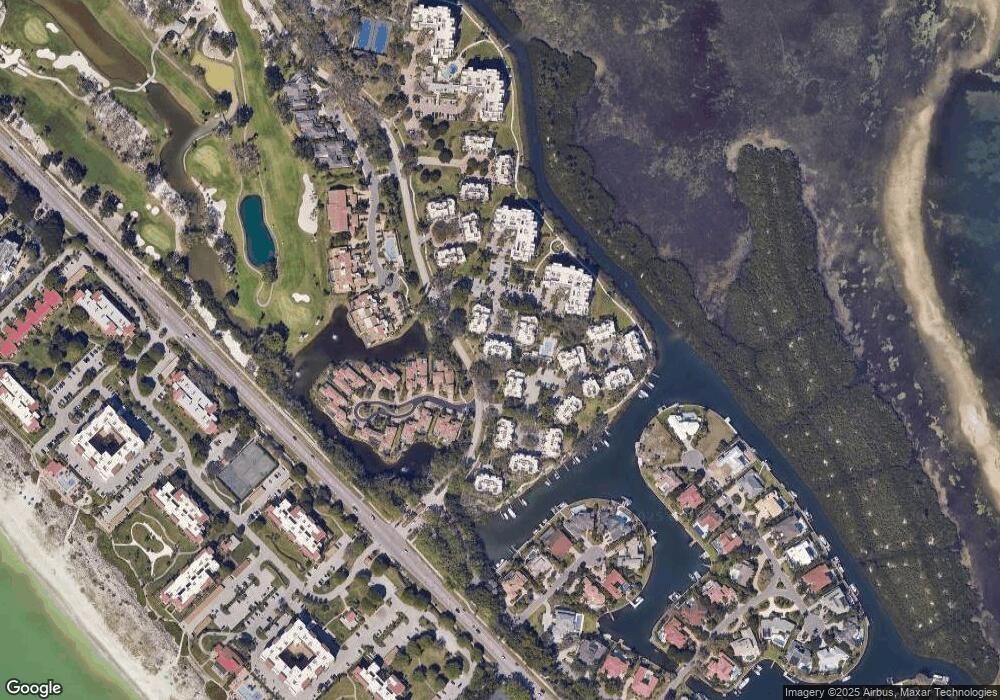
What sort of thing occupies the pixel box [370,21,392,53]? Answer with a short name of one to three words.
tennis court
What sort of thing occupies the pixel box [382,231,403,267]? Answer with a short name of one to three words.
swimming pool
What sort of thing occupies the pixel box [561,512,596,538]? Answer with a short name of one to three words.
house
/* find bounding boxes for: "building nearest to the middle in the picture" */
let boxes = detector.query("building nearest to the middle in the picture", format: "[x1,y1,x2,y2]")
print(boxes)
[480,336,513,356]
